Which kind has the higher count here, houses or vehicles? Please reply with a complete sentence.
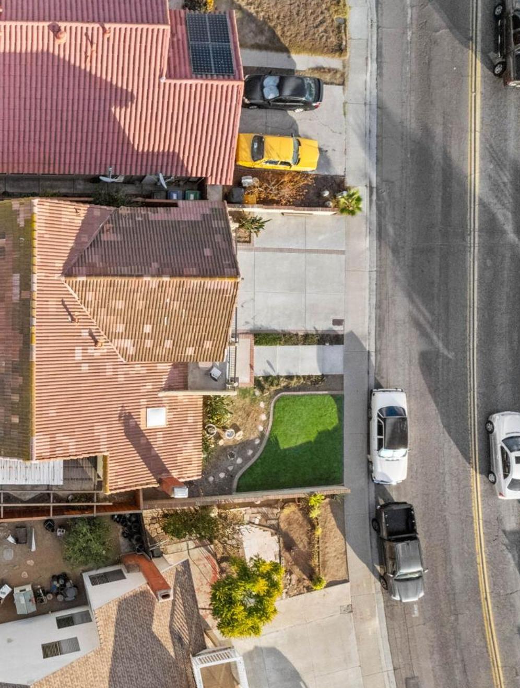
There are fewer houses than vehicles.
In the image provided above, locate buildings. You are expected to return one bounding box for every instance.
[0,197,243,502]
[0,0,245,185]
[0,542,205,688]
